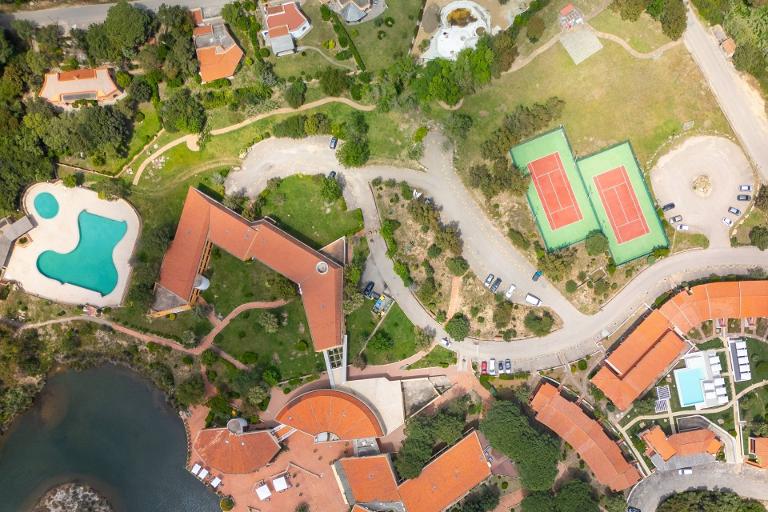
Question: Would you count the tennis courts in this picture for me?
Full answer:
Looking from above, you can make out 2 tennis courts.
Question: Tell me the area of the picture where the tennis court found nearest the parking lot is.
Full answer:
The tennis court found nearest the parking lot appears toward the right of the photo.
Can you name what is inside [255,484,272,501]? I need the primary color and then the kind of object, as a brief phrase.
white umbrella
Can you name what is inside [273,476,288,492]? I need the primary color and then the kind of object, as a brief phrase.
white umbrella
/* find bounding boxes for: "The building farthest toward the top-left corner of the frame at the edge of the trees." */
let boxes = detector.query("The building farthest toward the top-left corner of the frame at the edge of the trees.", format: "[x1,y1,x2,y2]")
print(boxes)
[38,67,128,105]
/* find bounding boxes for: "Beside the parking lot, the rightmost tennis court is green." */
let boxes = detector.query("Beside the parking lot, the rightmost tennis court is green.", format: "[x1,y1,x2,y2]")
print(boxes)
[578,140,673,266]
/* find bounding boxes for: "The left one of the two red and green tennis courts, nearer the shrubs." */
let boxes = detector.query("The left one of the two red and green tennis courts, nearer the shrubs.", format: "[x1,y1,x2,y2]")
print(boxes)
[512,125,607,252]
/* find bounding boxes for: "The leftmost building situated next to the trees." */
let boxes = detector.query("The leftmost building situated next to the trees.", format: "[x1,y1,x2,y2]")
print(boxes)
[0,216,38,269]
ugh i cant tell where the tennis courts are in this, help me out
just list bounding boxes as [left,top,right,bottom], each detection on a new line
[512,125,607,252]
[578,140,673,266]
